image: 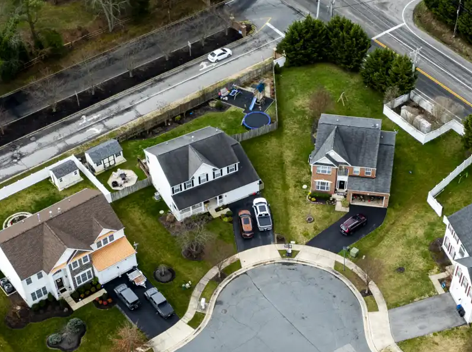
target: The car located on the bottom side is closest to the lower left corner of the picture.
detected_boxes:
[113,283,140,310]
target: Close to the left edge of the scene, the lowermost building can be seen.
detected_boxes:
[0,189,138,302]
